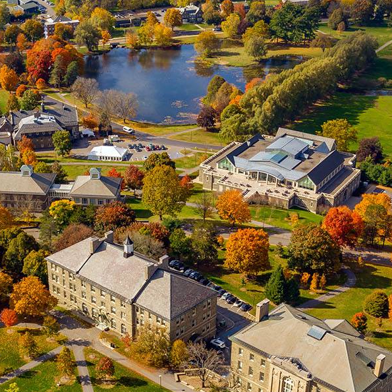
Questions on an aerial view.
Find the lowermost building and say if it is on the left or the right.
right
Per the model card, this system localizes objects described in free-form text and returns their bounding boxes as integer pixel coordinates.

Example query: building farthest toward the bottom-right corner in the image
[227,300,392,392]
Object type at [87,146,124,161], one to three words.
tent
